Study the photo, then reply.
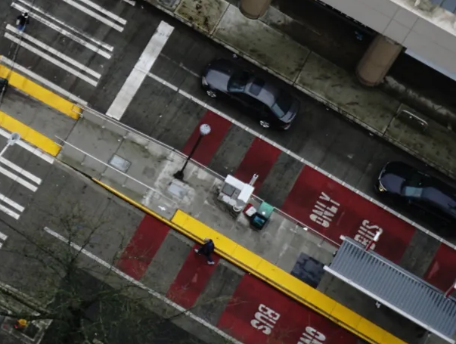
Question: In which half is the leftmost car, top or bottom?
top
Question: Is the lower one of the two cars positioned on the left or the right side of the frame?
right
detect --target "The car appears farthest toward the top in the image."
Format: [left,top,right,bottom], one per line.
[199,57,306,134]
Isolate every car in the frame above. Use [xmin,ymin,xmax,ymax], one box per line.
[199,57,306,134]
[371,162,456,240]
